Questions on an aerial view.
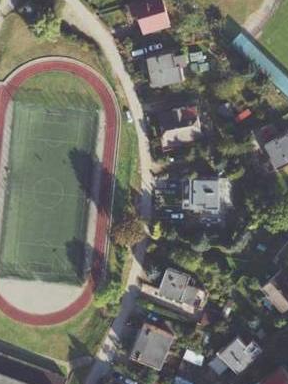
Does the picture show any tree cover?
Yes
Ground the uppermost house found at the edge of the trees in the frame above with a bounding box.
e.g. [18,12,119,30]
[130,0,172,36]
